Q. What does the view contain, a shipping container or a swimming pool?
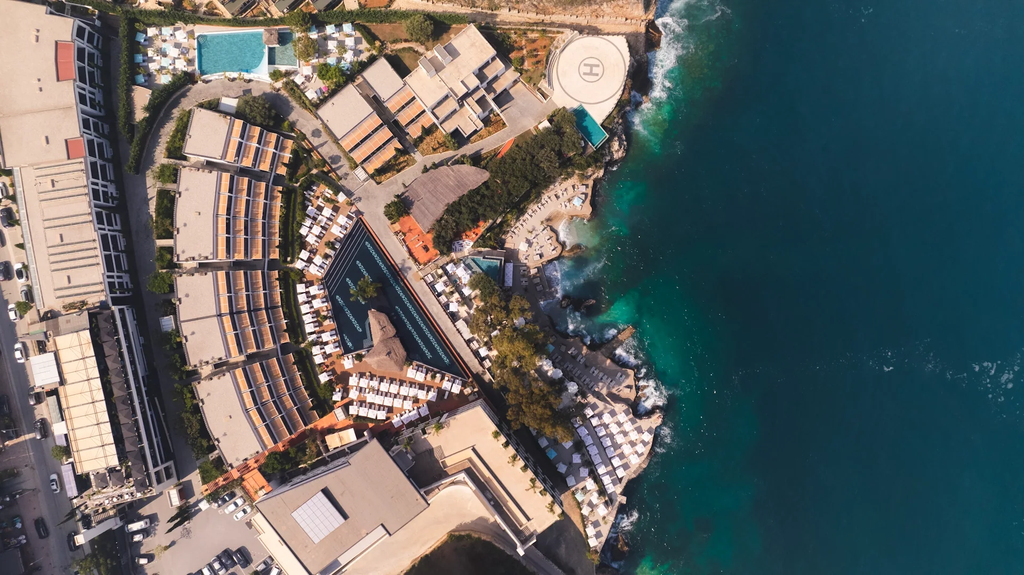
swimming pool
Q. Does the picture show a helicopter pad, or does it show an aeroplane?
helicopter pad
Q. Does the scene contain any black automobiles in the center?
No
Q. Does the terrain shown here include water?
Yes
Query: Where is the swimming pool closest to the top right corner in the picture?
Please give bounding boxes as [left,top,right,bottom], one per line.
[572,105,608,149]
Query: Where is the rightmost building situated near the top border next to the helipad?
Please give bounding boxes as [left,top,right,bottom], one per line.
[403,23,521,146]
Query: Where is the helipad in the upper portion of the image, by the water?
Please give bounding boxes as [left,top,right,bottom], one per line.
[553,35,630,123]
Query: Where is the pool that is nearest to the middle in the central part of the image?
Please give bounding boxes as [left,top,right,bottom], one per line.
[470,256,500,284]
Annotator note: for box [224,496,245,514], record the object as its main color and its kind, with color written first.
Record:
white car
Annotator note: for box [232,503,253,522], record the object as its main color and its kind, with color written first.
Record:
white car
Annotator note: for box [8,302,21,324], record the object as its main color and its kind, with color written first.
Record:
white vehicle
